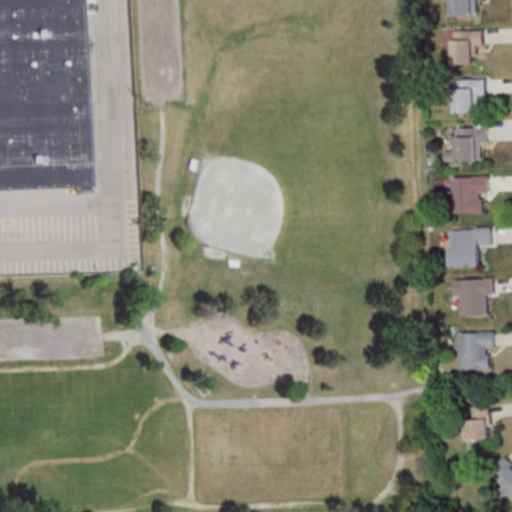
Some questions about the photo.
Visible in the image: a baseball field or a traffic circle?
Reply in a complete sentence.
It is a baseball field that can be seen here.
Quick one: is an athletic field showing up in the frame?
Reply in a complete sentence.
Yes, the picture does show an athletic field.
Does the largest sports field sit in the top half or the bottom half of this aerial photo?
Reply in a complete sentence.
You can find the largest sports field in the bottom half.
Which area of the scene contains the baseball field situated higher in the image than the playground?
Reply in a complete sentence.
The baseball field situated higher in the image than the playground appears toward the center of the photo.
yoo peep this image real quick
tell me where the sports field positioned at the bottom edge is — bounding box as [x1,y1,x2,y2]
[196,408,341,499]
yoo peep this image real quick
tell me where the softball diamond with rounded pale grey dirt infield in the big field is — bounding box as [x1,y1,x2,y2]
[188,156,284,258]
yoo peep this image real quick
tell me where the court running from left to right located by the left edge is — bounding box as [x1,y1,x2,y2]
[0,315,104,362]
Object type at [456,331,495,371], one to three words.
house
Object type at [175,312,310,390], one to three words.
playground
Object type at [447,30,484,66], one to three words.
house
